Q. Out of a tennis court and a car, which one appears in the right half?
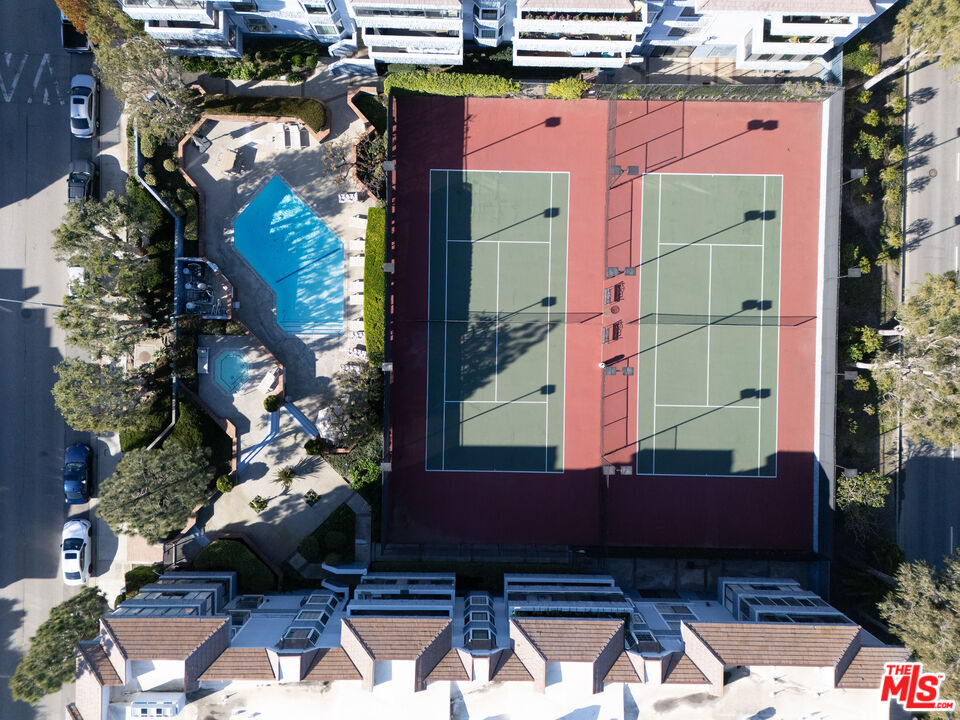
tennis court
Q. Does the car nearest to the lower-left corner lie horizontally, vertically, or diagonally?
vertically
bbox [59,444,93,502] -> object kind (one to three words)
car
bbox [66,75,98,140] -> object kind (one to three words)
car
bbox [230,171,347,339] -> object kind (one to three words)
swimming pool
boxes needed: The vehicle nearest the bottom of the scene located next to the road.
[58,518,92,586]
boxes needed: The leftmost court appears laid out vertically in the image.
[388,97,608,550]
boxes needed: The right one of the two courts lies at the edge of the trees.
[600,98,823,553]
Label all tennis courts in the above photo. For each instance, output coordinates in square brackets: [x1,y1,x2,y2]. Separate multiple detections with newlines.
[388,97,608,550]
[600,98,823,553]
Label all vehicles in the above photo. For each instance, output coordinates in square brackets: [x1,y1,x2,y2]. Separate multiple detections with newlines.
[66,75,98,140]
[58,518,92,586]
[59,444,93,502]
[57,8,90,52]
[62,156,98,218]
